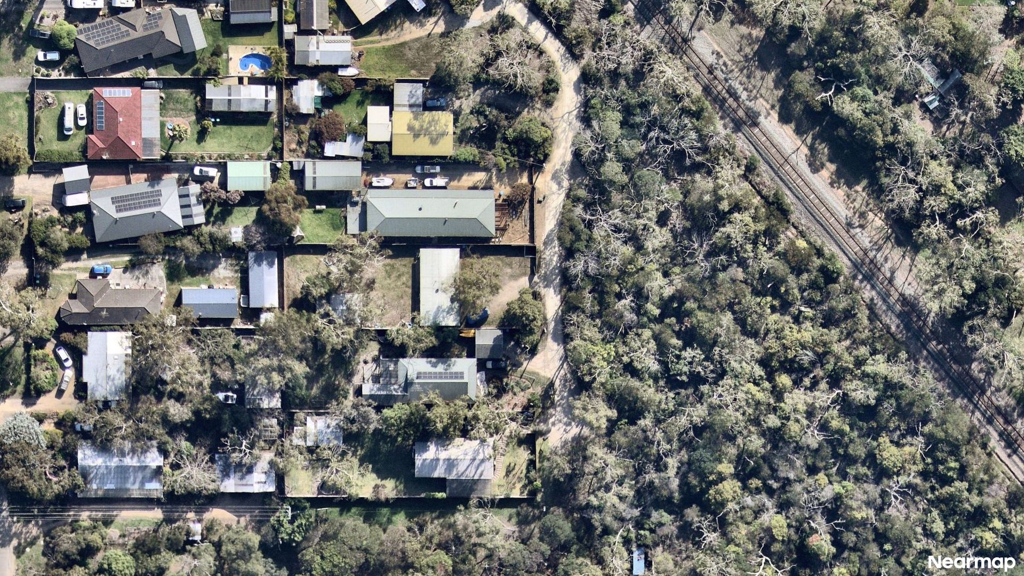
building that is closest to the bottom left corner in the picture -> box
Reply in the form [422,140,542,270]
[78,440,164,498]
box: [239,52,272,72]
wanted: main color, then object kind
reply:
blue swimming pool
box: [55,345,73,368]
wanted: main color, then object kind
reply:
white car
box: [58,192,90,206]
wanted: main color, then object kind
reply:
white camper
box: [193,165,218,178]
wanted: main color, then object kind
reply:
white vehicle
